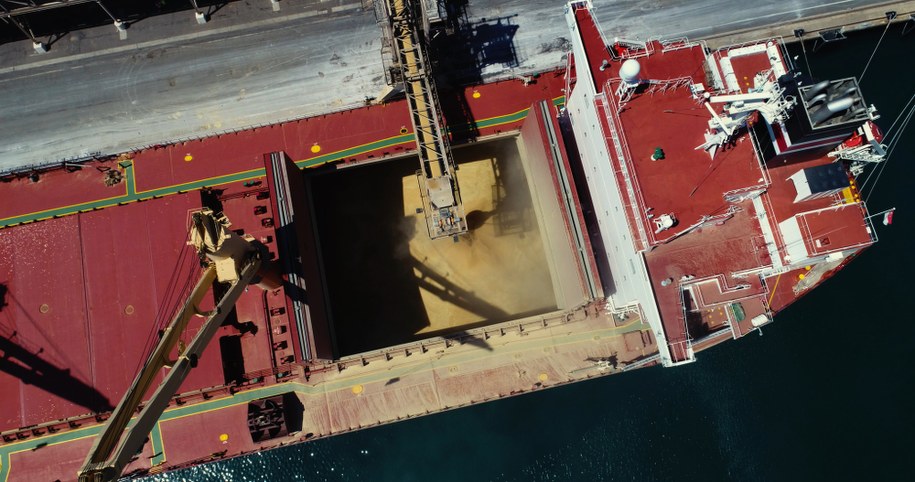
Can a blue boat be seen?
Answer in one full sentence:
No, I can see no blue boat in this picture.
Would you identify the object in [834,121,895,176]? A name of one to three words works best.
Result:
boat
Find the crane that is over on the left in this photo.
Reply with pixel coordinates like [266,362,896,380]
[69,199,283,482]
